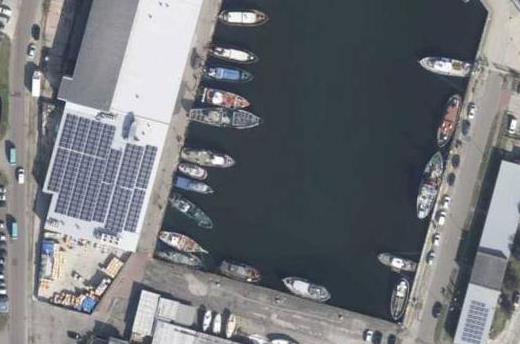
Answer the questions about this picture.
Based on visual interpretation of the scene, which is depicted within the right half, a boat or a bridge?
boat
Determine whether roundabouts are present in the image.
No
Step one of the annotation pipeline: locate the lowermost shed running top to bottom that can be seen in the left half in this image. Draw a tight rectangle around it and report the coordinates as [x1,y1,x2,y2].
[132,290,162,338]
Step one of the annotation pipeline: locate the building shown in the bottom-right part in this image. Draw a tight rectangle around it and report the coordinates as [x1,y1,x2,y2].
[454,159,520,344]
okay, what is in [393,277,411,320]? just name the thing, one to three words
boat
